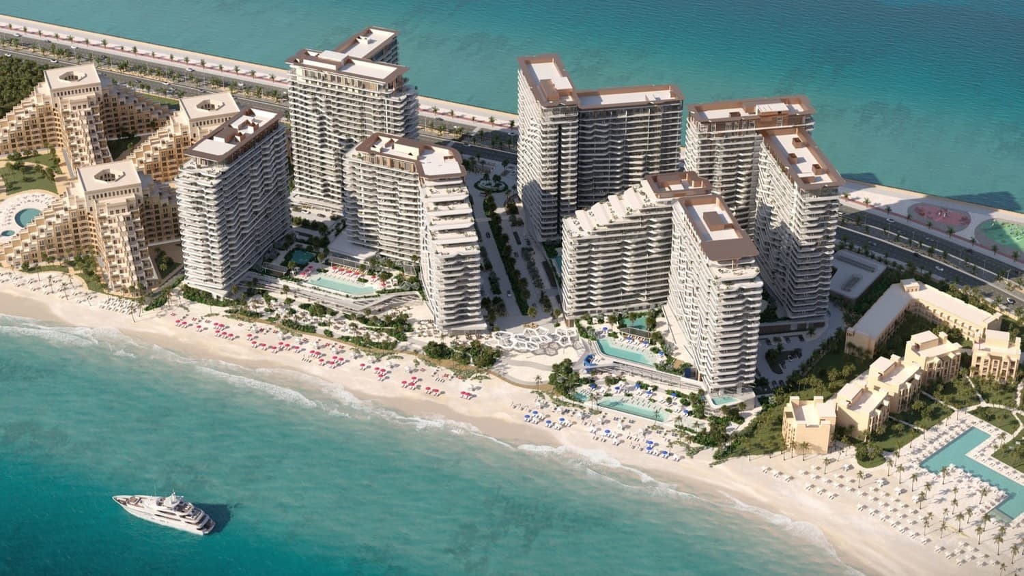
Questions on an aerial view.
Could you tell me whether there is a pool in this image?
Yes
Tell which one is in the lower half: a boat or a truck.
boat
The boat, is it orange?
No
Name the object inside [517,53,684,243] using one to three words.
building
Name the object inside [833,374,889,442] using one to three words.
house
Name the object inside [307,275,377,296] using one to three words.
swimming pool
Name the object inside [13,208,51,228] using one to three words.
swimming pool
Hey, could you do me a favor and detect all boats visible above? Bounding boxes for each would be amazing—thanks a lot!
[112,497,217,539]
